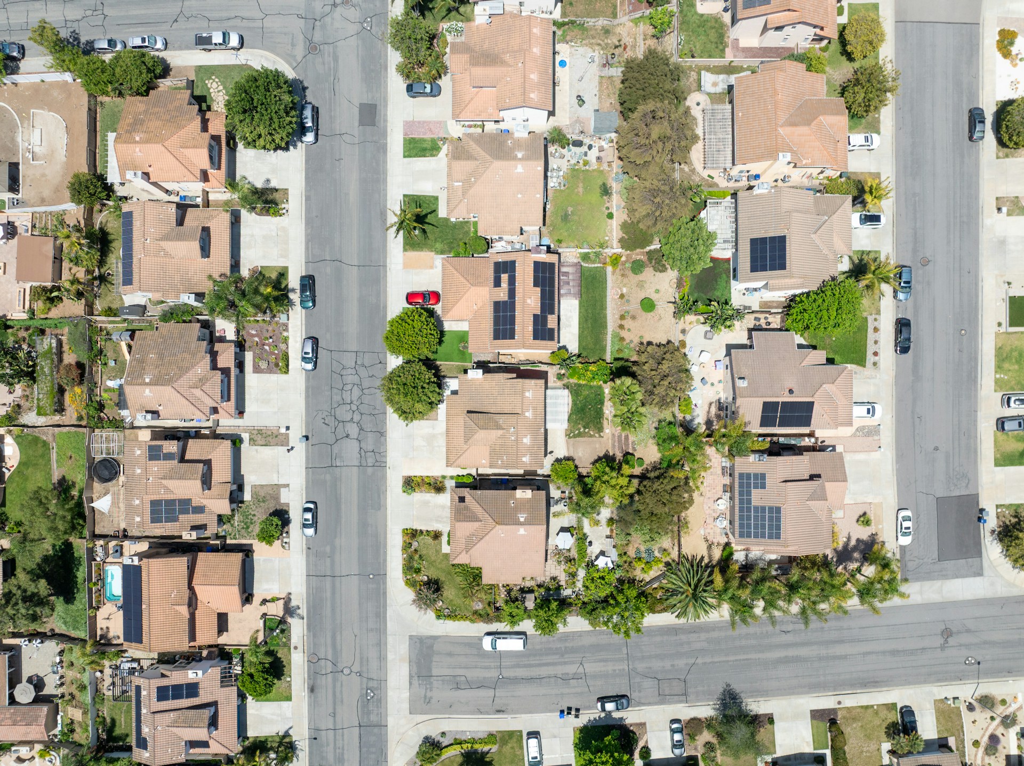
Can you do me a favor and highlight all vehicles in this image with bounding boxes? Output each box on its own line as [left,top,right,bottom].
[595,694,631,713]
[894,319,913,354]
[300,105,318,142]
[670,720,687,757]
[1001,394,1024,408]
[300,336,318,371]
[967,107,988,143]
[298,274,316,310]
[407,289,439,306]
[406,79,441,98]
[848,131,883,150]
[197,30,240,49]
[896,509,915,545]
[526,731,543,766]
[995,416,1024,433]
[854,402,886,419]
[899,702,921,738]
[300,501,318,537]
[129,33,166,52]
[895,265,914,301]
[93,36,126,54]
[483,632,527,653]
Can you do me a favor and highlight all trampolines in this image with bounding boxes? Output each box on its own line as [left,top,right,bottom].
[89,457,119,485]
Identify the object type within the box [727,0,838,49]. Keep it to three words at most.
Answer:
house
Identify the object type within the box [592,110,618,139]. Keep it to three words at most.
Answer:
shed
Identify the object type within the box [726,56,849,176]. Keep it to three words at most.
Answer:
house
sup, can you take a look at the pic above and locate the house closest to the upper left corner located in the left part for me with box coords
[109,90,231,194]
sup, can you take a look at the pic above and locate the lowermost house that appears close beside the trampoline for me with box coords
[123,439,240,539]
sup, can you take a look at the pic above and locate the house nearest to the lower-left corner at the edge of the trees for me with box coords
[0,648,60,742]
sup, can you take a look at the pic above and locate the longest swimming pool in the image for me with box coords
[104,565,121,603]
